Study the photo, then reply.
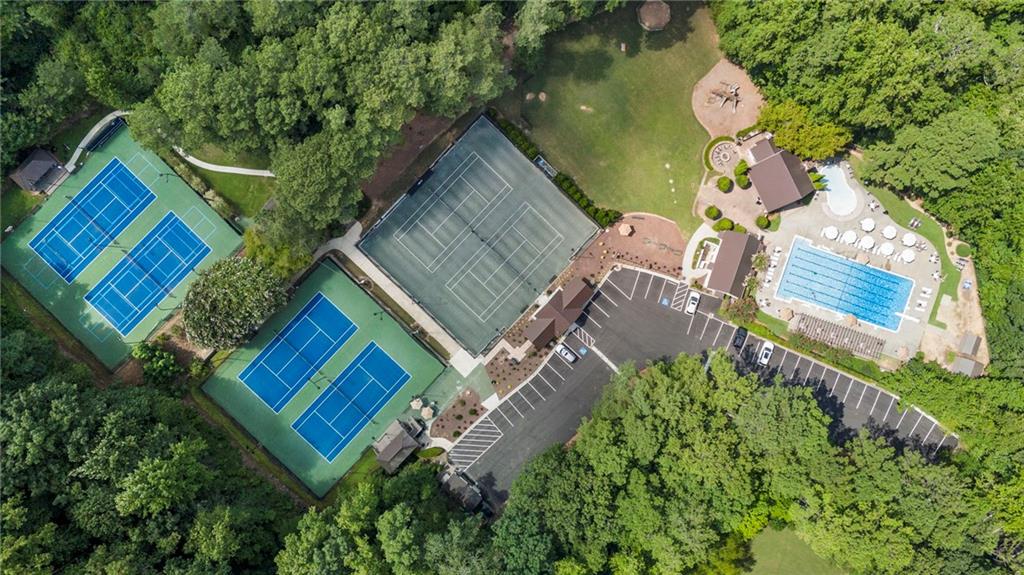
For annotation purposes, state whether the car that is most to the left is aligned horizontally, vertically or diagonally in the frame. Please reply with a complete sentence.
In this picture, the car that is most to the left is oriented diagonally.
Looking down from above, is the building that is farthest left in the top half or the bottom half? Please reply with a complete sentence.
You can find the building that is farthest left in the top half.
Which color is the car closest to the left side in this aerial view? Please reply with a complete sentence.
The color of the car closest to the left side is white.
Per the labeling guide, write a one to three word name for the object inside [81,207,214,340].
tennis court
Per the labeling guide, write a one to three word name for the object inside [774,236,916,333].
swimming pool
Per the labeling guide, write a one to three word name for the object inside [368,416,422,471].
building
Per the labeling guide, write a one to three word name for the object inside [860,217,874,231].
umbrella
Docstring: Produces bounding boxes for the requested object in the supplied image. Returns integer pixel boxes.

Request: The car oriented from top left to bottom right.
[555,344,577,365]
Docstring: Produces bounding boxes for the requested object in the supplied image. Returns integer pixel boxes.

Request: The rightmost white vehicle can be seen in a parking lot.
[757,341,773,366]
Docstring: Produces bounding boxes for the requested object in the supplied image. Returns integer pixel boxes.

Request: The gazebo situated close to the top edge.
[637,0,669,34]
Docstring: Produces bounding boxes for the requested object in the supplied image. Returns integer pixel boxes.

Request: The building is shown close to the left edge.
[9,145,61,194]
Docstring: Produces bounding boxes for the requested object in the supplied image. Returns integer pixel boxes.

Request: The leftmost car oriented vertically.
[685,291,699,315]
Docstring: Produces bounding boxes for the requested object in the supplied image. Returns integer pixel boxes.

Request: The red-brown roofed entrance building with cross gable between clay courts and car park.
[522,274,599,353]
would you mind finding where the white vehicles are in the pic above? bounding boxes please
[685,291,699,315]
[555,344,577,365]
[757,341,773,366]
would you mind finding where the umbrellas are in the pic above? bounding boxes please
[842,230,856,244]
[844,315,856,325]
[879,242,893,256]
[860,217,874,231]
[422,407,434,420]
[619,223,633,236]
[882,226,896,239]
[856,253,868,265]
[901,234,915,247]
[824,226,838,240]
[900,249,914,263]
[779,308,792,321]
[410,397,422,410]
[859,236,873,250]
